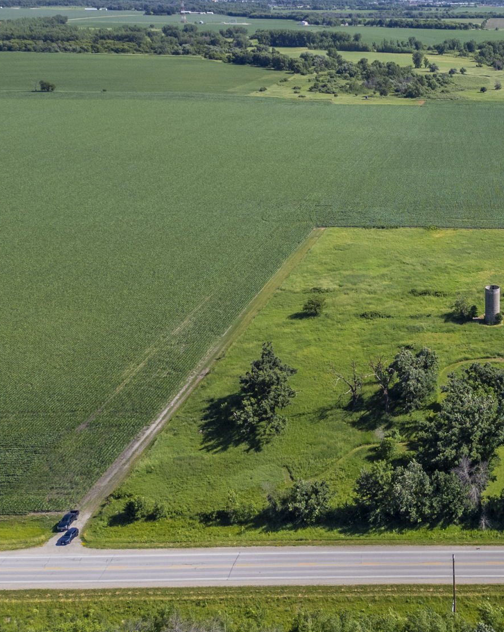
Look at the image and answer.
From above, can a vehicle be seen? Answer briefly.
Yes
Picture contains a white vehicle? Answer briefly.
No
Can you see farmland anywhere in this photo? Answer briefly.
Yes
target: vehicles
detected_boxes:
[57,509,82,529]
[57,526,79,544]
